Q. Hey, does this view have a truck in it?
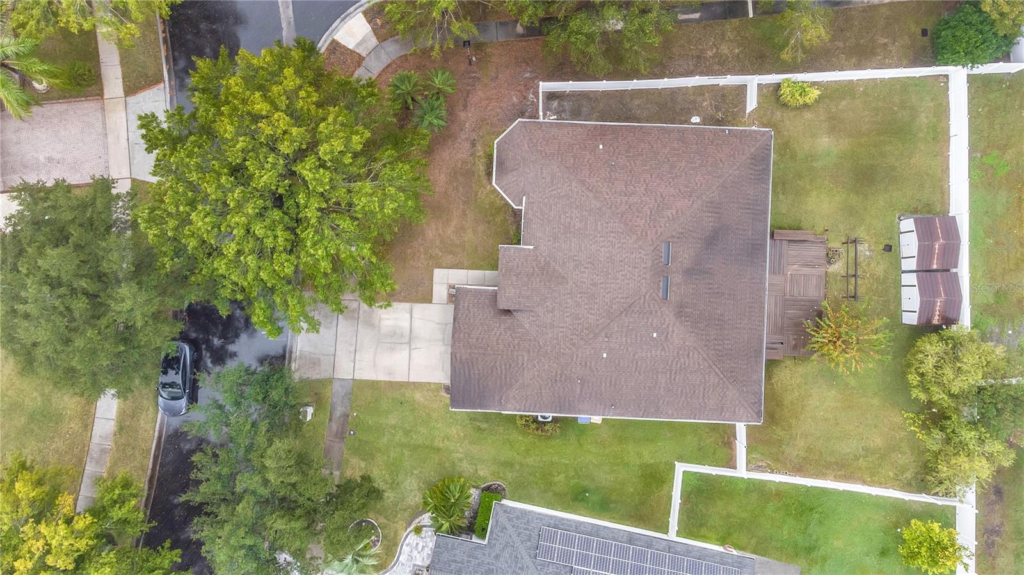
No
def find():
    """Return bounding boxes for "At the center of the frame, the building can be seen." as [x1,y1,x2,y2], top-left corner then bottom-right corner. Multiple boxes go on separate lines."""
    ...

[449,118,774,425]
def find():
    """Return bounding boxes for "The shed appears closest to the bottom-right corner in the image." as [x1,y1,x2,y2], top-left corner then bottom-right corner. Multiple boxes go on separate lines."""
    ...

[900,271,966,325]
